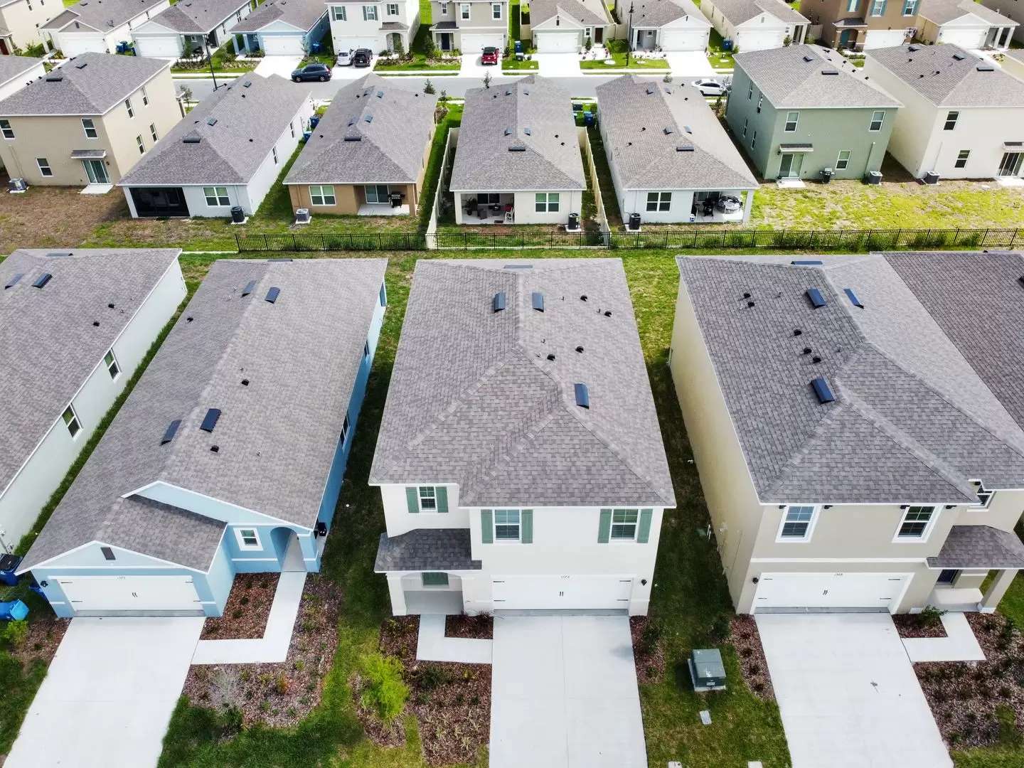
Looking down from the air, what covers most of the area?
buildings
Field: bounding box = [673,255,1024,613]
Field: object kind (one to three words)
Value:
house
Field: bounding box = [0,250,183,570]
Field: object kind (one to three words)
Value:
house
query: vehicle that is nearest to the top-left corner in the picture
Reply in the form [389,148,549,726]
[286,63,335,84]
